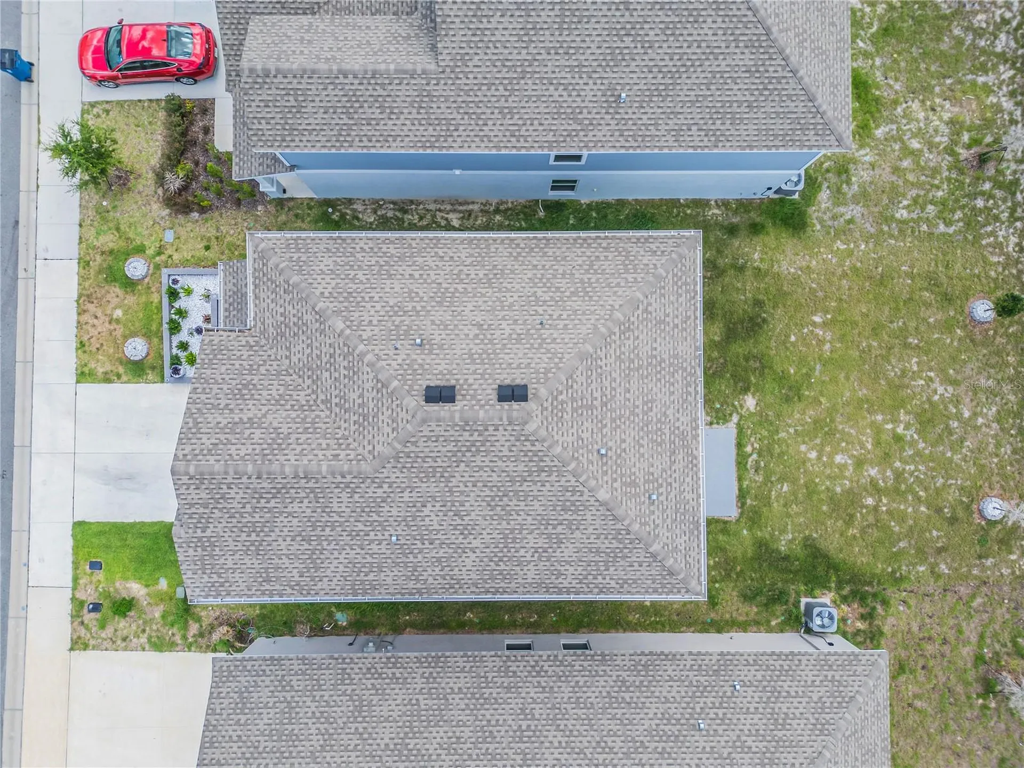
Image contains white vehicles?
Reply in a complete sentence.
No, no white vehicle is visible in the view.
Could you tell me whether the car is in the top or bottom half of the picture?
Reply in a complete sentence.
It is in the top half that the car appears.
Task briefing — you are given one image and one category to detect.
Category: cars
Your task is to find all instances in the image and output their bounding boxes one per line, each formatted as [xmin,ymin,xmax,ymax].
[77,17,218,87]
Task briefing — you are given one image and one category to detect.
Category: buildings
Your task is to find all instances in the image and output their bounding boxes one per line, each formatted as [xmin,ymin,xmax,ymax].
[172,231,708,604]
[213,0,854,211]
[194,630,891,768]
